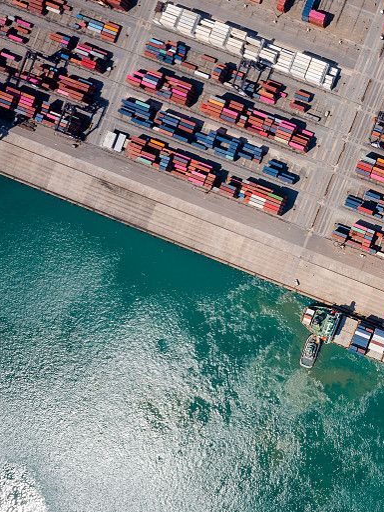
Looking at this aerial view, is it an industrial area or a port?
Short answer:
port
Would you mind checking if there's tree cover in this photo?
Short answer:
No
